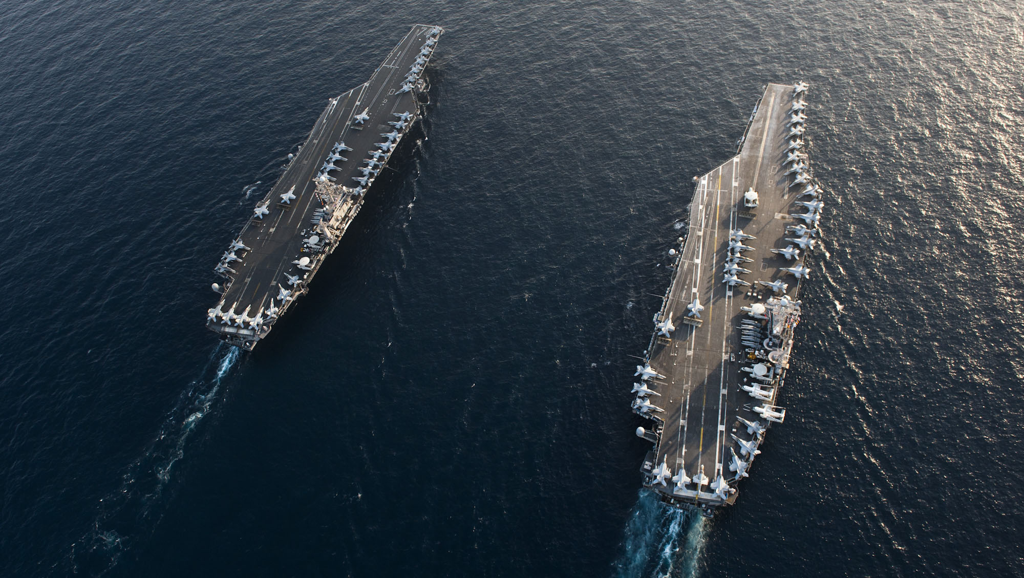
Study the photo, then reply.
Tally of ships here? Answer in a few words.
two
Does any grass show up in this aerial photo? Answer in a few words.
No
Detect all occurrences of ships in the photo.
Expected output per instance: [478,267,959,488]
[204,24,443,359]
[627,83,824,531]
